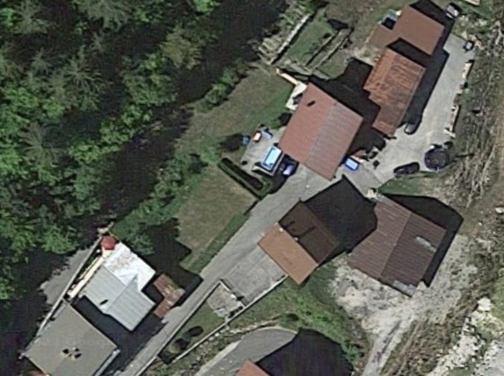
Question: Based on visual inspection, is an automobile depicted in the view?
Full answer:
Yes, there's an automobile down there.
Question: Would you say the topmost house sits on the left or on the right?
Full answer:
The topmost house appears in the right half of the scene.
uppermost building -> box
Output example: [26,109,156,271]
[368,5,445,57]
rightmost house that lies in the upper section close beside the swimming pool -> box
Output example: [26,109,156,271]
[277,70,363,181]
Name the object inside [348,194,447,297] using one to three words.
barn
